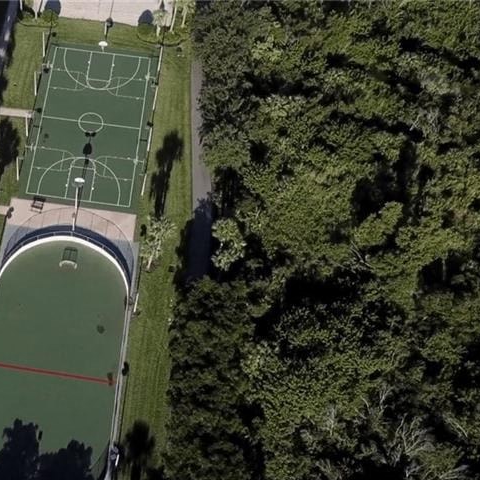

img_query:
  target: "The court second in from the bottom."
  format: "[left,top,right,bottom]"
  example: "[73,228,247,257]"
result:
[18,42,160,212]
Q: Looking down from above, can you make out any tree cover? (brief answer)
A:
Yes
